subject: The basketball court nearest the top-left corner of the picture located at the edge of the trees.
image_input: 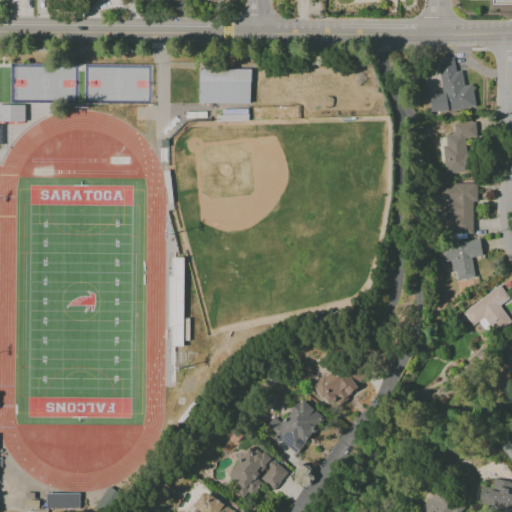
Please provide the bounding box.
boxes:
[12,64,78,102]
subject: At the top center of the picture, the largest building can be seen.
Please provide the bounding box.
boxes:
[199,68,252,104]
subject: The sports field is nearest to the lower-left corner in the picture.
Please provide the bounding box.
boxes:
[16,178,147,425]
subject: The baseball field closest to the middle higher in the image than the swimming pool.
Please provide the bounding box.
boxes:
[173,113,396,338]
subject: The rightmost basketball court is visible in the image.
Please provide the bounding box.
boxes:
[86,64,152,103]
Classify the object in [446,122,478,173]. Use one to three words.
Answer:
house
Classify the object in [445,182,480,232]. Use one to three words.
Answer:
house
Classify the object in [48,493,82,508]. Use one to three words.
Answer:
shed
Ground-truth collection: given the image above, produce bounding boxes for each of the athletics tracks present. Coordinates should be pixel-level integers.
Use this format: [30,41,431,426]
[0,111,166,492]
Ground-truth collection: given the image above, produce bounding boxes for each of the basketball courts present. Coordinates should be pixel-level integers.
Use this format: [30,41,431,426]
[12,64,78,102]
[86,64,152,103]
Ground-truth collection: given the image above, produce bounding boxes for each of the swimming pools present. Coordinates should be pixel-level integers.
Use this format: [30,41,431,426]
[214,458,232,480]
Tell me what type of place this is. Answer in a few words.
sports ground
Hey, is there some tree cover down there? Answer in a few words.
Yes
